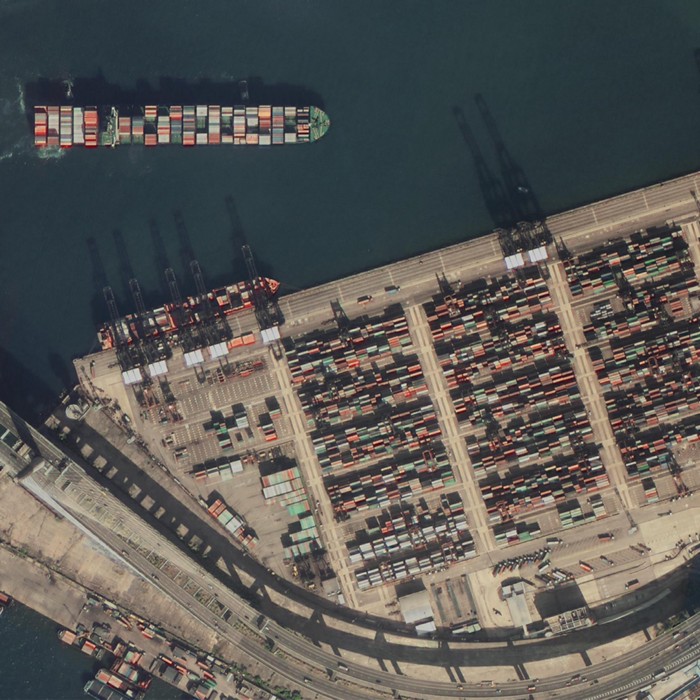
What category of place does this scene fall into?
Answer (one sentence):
This image shows a port.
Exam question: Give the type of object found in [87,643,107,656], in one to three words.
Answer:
ship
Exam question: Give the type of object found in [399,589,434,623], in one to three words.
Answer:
building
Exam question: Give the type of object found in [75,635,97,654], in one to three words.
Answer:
ship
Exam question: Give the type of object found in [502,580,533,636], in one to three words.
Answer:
building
